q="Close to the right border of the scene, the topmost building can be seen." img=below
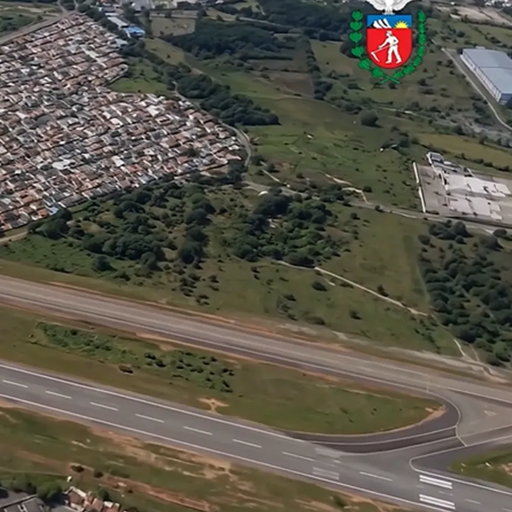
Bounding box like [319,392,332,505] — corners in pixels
[460,49,512,102]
